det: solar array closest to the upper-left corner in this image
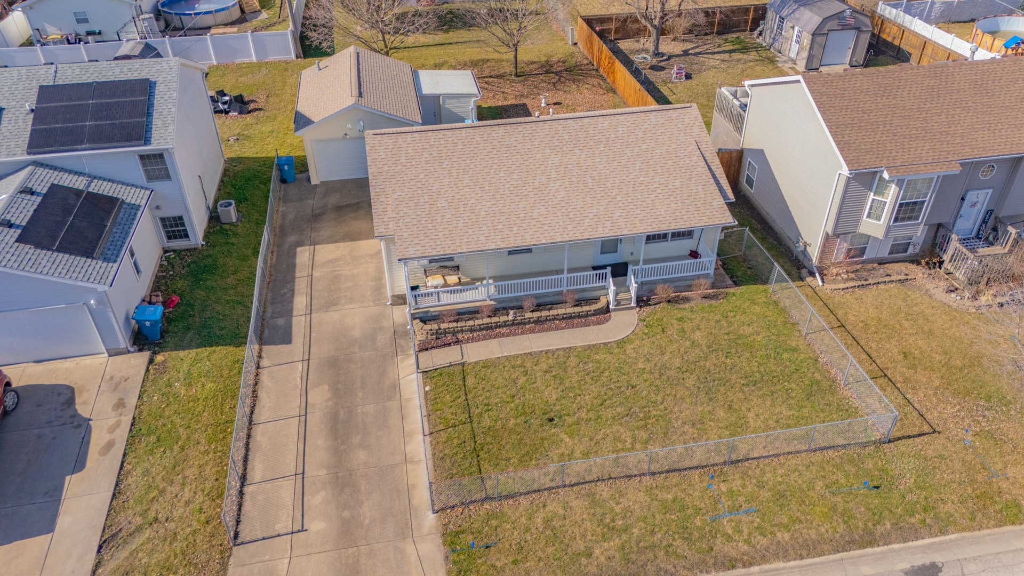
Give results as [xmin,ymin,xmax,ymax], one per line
[27,78,152,157]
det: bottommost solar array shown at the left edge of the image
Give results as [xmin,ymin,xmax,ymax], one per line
[14,181,124,259]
